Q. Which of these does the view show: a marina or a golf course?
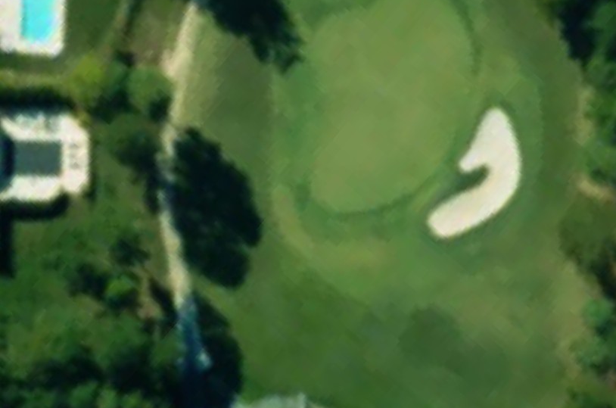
golf course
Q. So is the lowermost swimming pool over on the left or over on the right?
left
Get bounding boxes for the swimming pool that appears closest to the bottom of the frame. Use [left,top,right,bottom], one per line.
[0,110,90,201]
